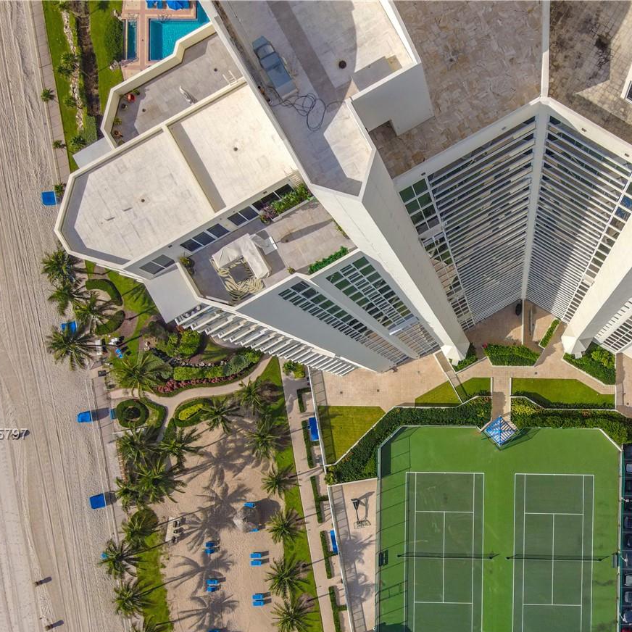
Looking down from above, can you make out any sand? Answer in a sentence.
Yes, some sand is visible.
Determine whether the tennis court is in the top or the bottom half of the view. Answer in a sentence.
The bottom half of the photo is where the tennis court is.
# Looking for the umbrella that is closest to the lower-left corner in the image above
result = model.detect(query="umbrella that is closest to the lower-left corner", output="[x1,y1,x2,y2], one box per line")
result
[234,504,258,529]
